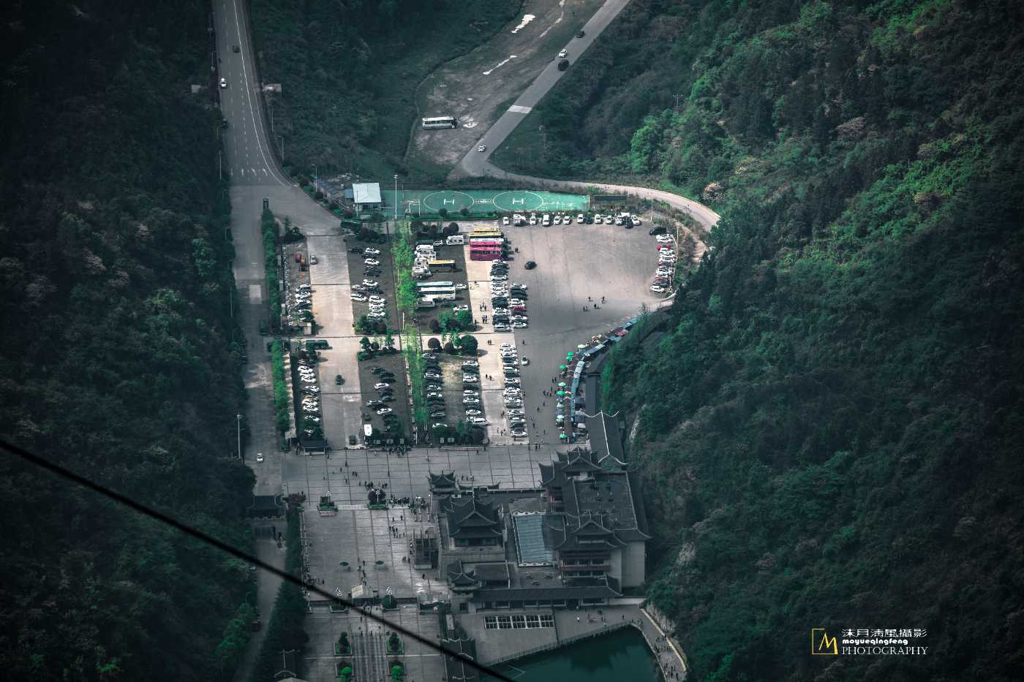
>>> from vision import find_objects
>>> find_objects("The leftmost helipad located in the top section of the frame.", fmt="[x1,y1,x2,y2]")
[383,189,488,217]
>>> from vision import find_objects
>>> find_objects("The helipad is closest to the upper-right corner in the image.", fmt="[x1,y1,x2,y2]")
[483,189,590,216]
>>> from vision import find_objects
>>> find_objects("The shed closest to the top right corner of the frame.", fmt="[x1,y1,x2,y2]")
[595,194,625,210]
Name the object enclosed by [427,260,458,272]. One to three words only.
vehicle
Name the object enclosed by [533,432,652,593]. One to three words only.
building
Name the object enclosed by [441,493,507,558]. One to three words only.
building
